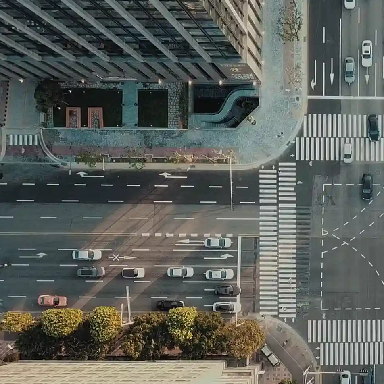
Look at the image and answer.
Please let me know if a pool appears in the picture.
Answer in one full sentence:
No, no pool can be seen from above.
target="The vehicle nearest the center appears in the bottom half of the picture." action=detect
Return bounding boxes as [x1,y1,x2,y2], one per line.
[205,237,232,249]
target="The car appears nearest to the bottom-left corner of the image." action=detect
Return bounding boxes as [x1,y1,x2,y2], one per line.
[39,295,67,307]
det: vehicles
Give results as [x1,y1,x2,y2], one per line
[361,173,373,201]
[367,114,380,141]
[343,56,356,84]
[79,266,105,278]
[74,249,101,261]
[207,268,234,280]
[344,0,354,9]
[157,299,184,310]
[361,40,373,68]
[341,372,351,384]
[363,369,373,384]
[122,267,144,279]
[215,284,241,297]
[342,142,354,164]
[205,237,232,249]
[167,266,195,278]
[214,301,241,312]
[39,295,67,307]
